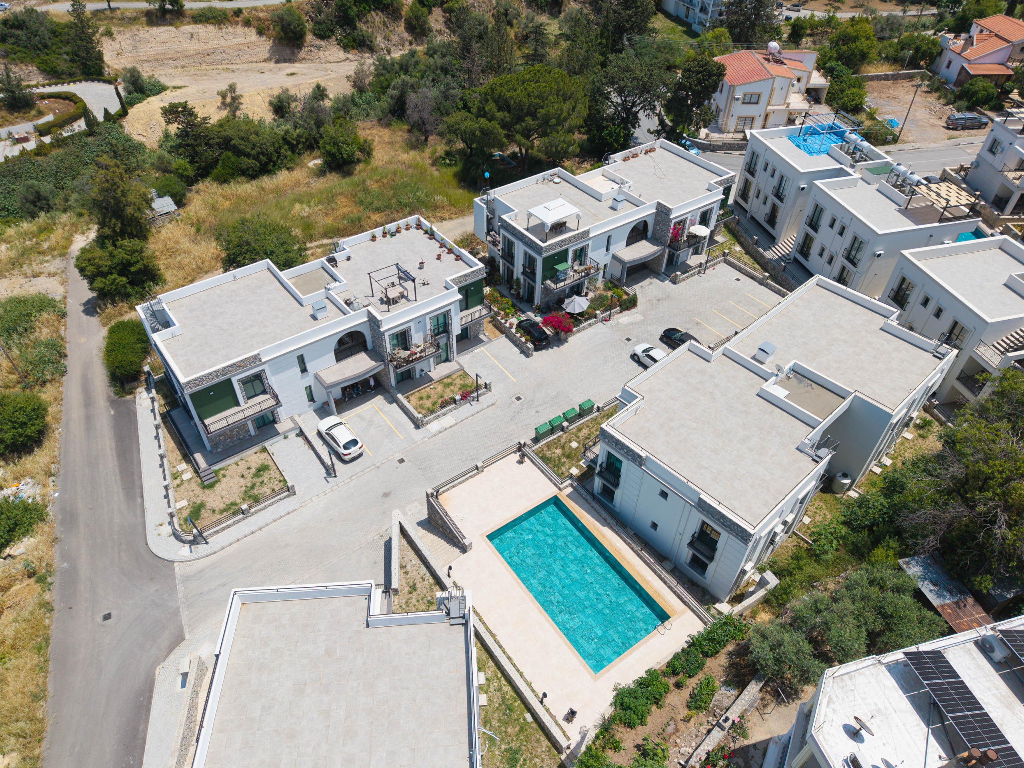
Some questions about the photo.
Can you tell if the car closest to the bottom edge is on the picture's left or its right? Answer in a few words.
left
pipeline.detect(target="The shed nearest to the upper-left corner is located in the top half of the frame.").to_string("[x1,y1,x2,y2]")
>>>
[150,192,181,236]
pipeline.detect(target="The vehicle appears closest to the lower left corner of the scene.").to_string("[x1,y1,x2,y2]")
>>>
[323,417,366,463]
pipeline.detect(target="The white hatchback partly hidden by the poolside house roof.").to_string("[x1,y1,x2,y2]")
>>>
[626,342,668,369]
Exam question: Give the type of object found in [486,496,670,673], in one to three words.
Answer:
swimming pool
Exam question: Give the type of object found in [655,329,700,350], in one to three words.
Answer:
car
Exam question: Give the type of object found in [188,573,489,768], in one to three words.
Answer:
house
